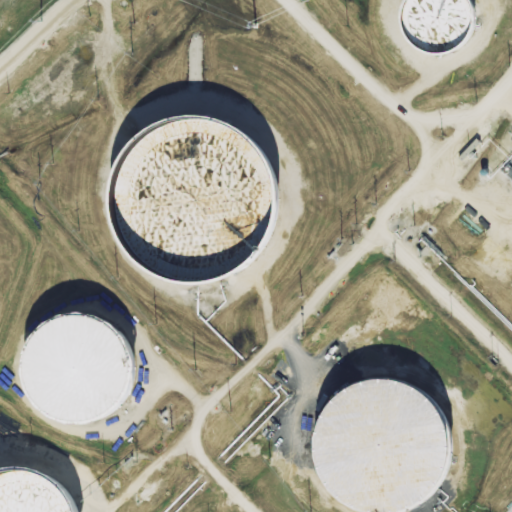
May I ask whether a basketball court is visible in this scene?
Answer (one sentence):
No, there's no basketball court here.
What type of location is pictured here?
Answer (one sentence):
This image shows an industrial area.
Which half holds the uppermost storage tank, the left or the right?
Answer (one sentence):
The uppermost storage tank sits on the right side.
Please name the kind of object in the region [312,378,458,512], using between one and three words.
storage tank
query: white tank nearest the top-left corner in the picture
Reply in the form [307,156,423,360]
[108,115,282,288]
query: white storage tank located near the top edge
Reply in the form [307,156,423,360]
[398,0,483,58]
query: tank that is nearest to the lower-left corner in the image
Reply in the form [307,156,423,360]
[0,464,84,512]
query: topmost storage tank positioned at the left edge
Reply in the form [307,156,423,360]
[20,312,136,426]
